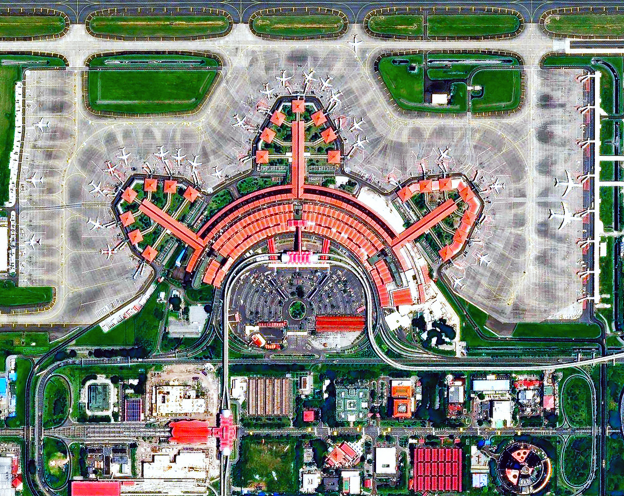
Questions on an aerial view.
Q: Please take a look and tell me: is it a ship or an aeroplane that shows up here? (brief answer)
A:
aeroplane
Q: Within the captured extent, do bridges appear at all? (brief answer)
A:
Yes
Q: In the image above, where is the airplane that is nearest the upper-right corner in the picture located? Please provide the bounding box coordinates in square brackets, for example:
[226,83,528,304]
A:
[555,171,582,196]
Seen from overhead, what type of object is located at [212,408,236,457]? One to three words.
train station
